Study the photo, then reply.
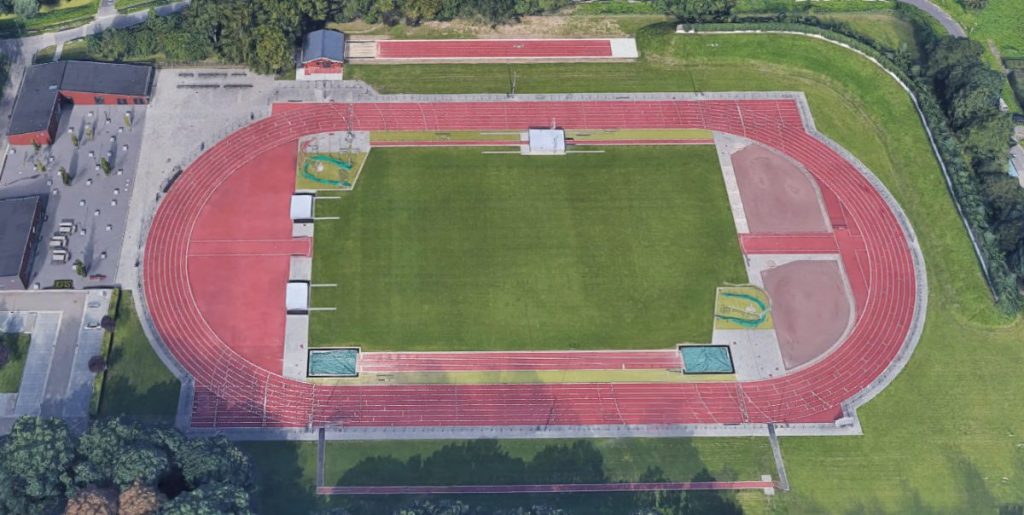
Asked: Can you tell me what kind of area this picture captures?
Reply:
sports ground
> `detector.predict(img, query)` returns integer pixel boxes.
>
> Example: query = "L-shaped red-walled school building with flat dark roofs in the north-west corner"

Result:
[6,59,155,145]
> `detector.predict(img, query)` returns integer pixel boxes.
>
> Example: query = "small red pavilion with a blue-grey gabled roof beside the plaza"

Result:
[298,30,347,76]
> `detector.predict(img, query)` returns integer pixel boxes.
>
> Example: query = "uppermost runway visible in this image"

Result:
[377,37,639,59]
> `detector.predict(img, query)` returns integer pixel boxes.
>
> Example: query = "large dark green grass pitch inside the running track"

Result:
[296,142,749,352]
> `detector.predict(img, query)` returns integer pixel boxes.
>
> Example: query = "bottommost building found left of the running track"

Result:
[0,193,45,287]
